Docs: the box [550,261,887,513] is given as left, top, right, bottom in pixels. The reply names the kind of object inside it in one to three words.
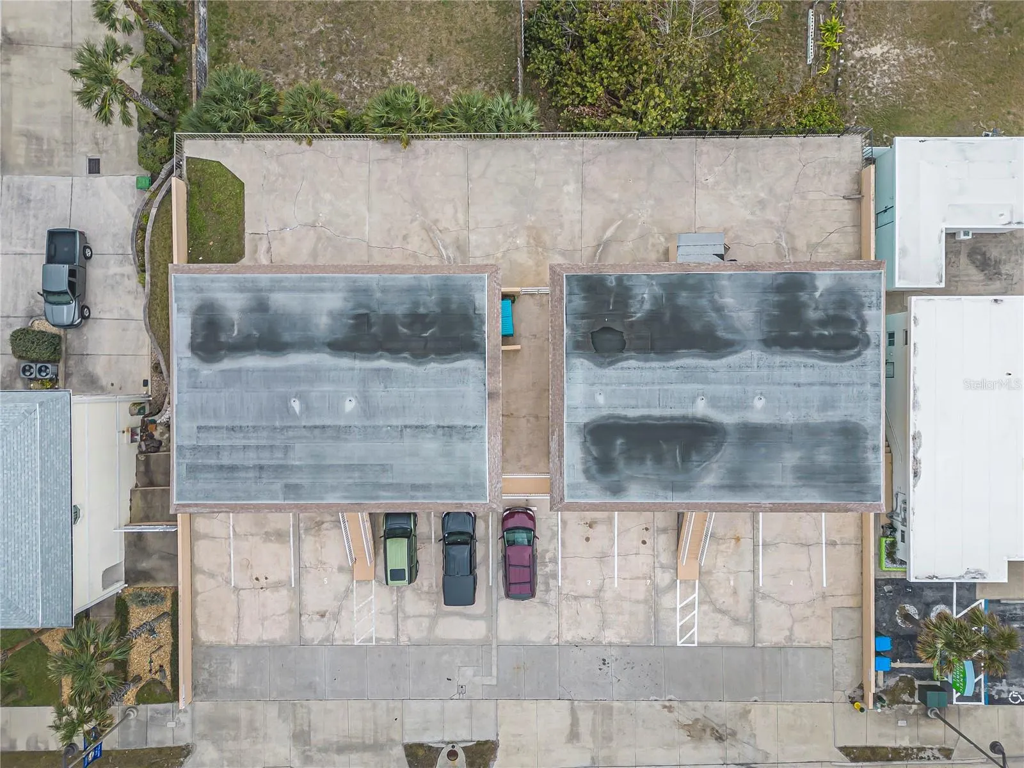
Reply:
building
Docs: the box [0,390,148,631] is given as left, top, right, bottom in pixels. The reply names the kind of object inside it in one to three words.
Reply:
house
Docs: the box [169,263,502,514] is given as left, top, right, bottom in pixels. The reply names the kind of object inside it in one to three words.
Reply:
building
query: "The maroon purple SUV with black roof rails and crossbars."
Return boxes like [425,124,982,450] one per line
[498,504,542,600]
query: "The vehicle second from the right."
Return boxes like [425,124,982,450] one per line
[438,513,480,604]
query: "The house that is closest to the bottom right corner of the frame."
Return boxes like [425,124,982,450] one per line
[886,295,1024,584]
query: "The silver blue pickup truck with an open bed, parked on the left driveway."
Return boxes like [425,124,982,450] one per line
[42,229,92,330]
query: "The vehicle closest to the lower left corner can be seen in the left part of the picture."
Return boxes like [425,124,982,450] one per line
[378,513,421,587]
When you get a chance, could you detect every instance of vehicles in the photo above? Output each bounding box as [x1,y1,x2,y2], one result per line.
[498,504,542,600]
[438,513,480,604]
[42,229,92,330]
[378,513,421,587]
